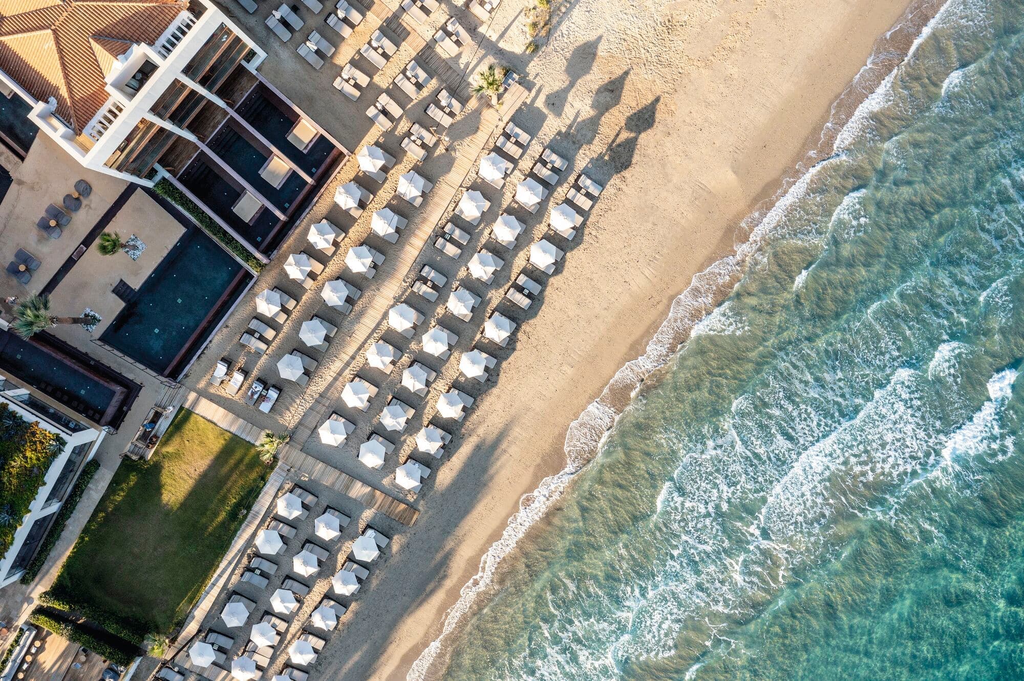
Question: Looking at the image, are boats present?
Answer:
No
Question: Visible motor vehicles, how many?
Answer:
0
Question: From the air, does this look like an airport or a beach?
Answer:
beach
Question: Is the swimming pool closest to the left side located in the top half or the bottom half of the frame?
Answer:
top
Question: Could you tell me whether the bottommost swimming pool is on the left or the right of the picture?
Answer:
left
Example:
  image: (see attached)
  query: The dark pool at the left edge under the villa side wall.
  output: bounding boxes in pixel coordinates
[0,98,47,159]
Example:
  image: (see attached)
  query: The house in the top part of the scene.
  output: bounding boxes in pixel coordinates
[0,0,273,194]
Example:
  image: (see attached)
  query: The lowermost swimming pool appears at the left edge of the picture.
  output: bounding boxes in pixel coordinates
[0,319,142,431]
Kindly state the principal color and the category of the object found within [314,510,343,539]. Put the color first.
white umbrella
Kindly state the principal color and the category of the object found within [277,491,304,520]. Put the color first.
white umbrella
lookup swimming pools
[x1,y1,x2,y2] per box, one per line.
[237,82,342,181]
[101,200,261,384]
[0,319,142,431]
[207,117,314,217]
[0,98,47,159]
[178,150,285,250]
